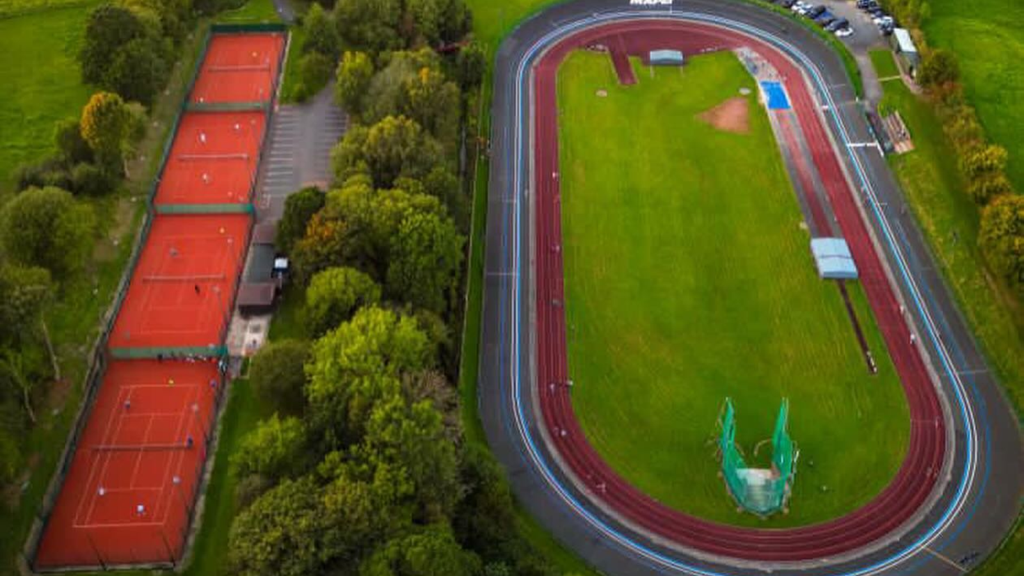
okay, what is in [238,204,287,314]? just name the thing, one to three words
building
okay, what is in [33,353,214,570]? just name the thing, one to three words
tennis court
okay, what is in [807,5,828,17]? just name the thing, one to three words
vehicle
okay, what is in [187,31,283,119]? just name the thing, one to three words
tennis court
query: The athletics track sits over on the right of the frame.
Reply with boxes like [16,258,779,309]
[533,17,947,561]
